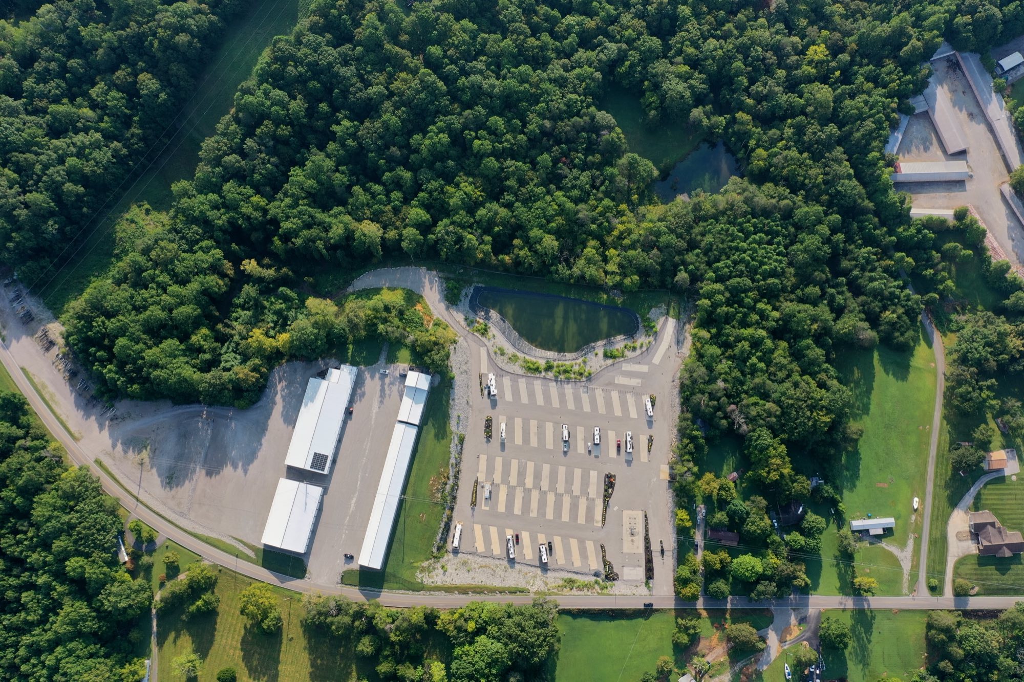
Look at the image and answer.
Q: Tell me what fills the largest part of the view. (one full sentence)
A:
For the most part, this view shows trees.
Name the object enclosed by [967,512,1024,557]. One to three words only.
house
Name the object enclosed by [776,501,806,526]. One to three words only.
house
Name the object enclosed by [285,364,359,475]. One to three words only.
building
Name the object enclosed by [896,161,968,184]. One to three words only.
barn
